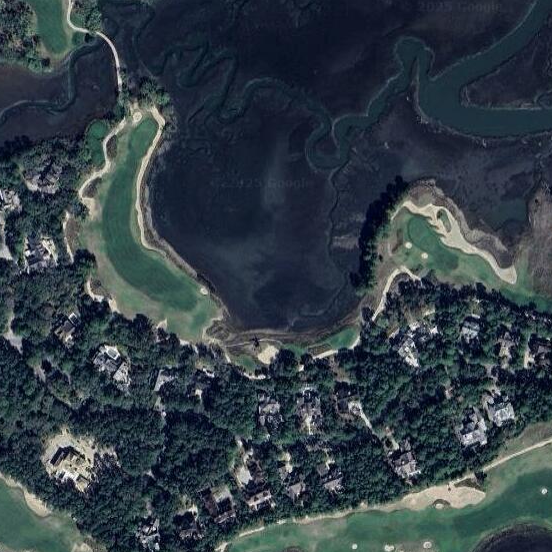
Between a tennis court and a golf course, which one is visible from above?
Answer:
golf course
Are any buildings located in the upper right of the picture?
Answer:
No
